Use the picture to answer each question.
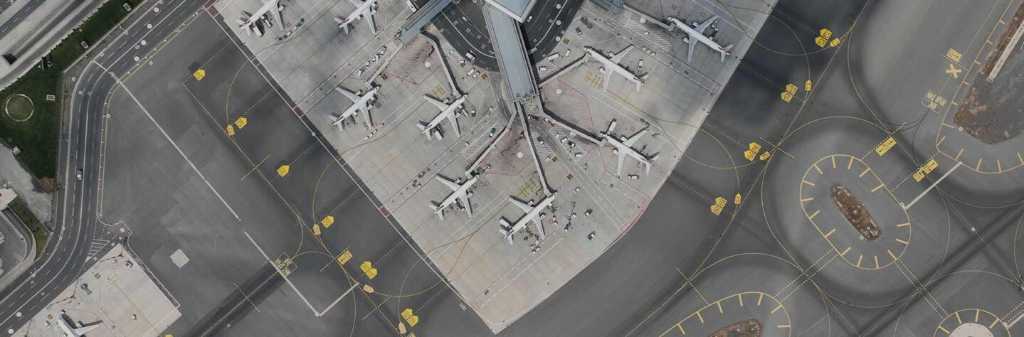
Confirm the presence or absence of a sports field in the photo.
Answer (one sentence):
No, no sports field is visible in the scene.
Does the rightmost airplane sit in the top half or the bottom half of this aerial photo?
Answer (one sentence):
Seen from above, the rightmost airplane lies in the top half of the view.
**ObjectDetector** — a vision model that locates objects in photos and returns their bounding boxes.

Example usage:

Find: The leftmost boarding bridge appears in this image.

[365,42,407,89]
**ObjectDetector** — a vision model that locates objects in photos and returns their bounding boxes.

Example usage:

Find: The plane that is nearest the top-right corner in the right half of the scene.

[669,13,736,62]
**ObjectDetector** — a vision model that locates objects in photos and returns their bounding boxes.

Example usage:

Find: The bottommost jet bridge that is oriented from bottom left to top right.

[467,103,519,177]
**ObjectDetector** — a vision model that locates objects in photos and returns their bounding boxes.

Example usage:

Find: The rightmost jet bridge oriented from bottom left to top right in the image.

[536,51,591,90]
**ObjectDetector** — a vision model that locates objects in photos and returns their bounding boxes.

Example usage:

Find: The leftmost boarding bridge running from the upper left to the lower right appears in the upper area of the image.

[419,31,464,97]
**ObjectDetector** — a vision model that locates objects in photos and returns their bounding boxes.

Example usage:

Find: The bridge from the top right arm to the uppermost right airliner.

[621,3,675,33]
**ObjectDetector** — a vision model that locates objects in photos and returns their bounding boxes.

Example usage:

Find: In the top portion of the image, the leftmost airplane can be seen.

[233,0,282,31]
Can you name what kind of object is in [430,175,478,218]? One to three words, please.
airplane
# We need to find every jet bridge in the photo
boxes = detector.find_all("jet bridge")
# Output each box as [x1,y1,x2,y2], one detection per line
[535,96,607,146]
[419,31,464,97]
[518,102,553,195]
[365,42,407,89]
[536,51,591,90]
[621,3,675,33]
[467,103,519,177]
